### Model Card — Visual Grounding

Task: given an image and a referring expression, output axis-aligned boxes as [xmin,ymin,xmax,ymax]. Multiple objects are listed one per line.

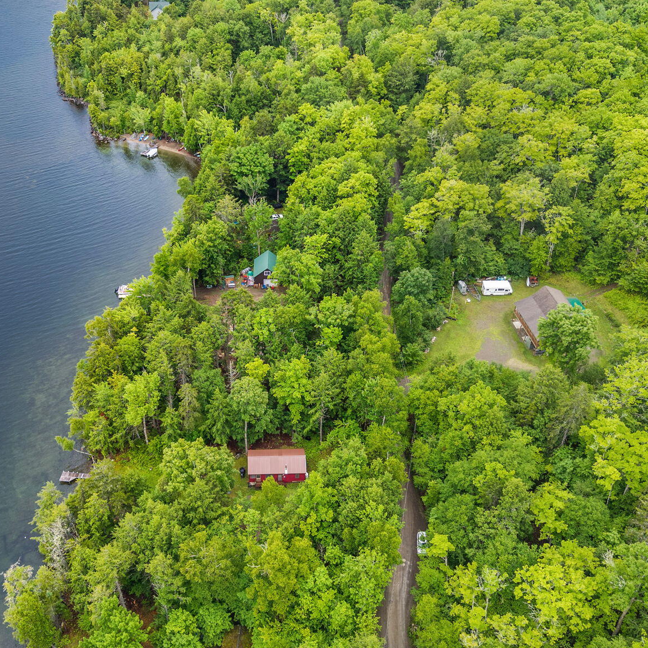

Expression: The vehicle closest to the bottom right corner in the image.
[416,527,428,553]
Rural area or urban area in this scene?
rural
